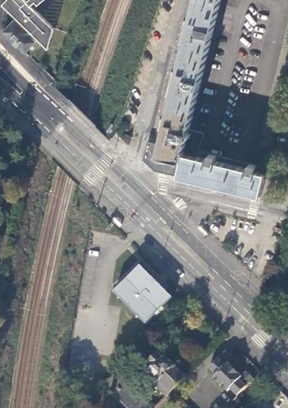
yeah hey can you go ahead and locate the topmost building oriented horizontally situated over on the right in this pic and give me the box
[176,154,268,202]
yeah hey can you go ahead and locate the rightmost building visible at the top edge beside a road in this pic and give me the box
[154,0,227,163]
